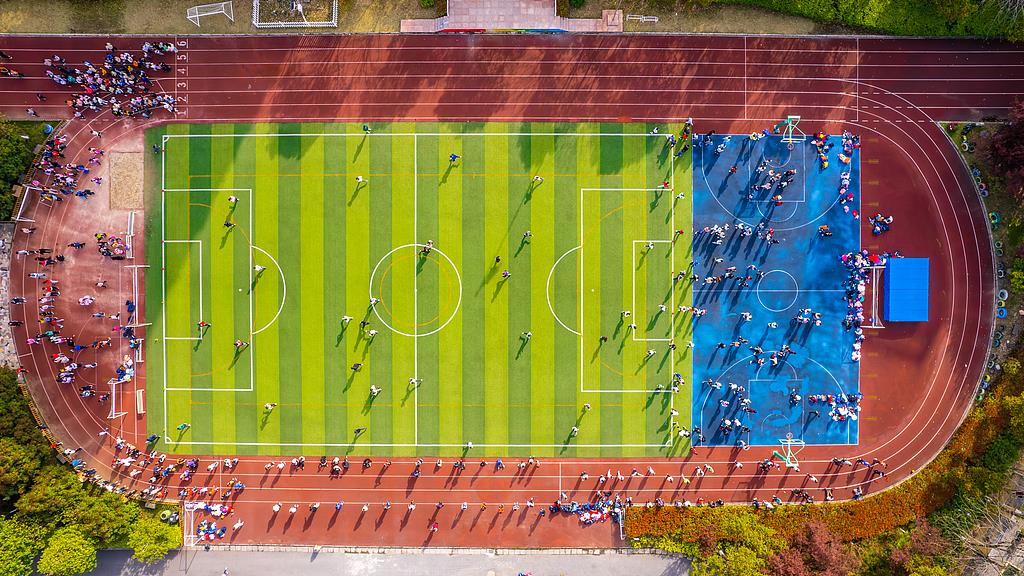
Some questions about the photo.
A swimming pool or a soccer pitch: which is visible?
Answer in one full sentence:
Looking from above, you can make out a soccer pitch.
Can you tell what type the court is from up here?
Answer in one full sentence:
The court in the image is a basketball court.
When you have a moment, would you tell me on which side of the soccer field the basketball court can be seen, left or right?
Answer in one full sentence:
The soccer field has the basketball court on its right side.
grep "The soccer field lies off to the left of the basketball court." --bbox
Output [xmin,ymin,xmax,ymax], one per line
[145,123,693,457]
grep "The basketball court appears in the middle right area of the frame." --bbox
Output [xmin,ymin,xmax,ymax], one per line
[693,134,860,446]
